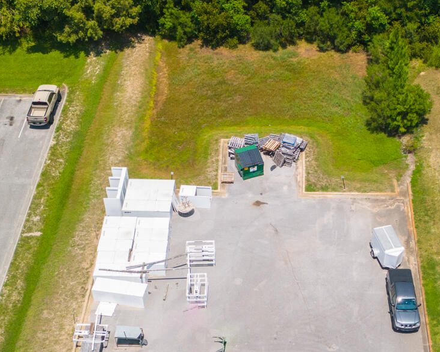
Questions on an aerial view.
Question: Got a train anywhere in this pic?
No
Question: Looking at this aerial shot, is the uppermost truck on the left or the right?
left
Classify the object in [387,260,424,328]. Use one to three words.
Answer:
truck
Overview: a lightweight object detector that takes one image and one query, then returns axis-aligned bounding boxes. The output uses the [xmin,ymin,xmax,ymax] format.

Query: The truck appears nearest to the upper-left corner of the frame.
[24,78,61,125]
